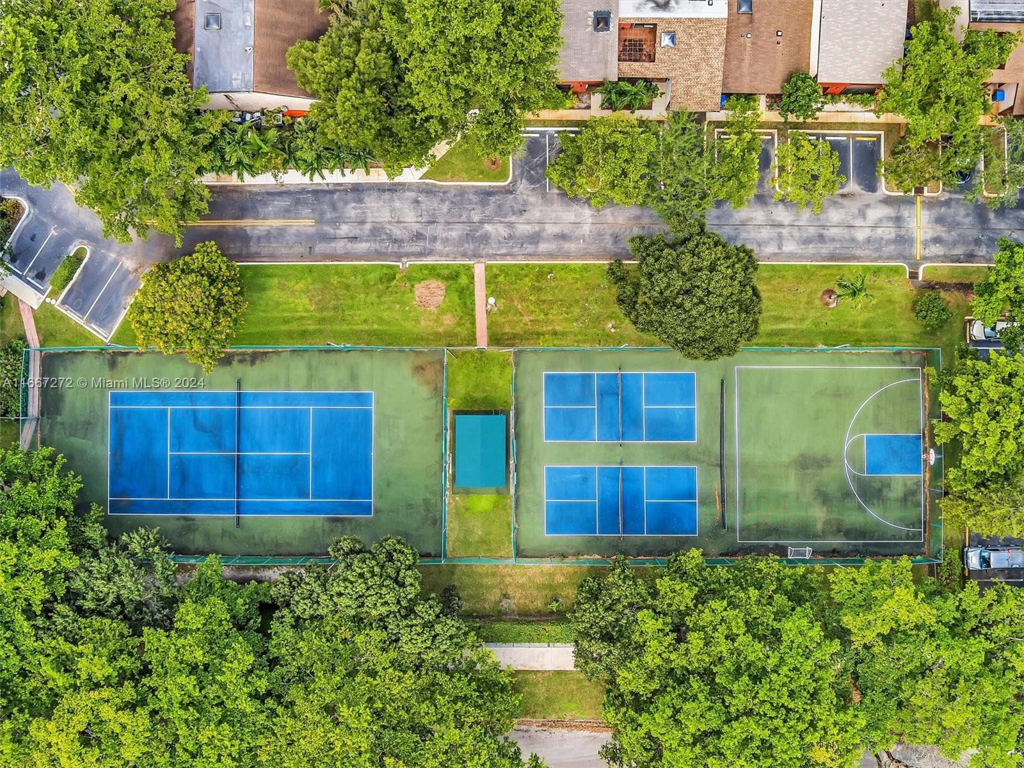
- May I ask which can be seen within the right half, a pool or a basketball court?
basketball court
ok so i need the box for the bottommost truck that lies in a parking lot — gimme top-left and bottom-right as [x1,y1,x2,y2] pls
[967,546,1024,573]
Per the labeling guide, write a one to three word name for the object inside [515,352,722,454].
sports court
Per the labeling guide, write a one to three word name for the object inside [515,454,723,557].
sports court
